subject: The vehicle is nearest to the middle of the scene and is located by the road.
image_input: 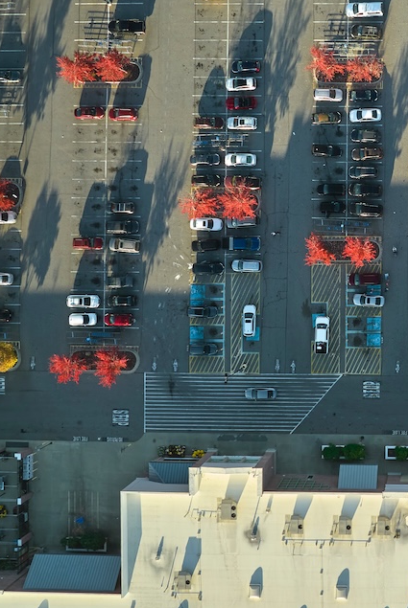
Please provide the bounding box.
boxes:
[184,305,221,320]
